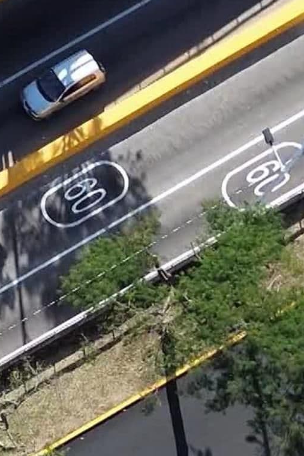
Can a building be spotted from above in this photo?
No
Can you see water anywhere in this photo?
No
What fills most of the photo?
paved ground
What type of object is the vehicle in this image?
automobile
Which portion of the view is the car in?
top left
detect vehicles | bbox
[17,46,110,120]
